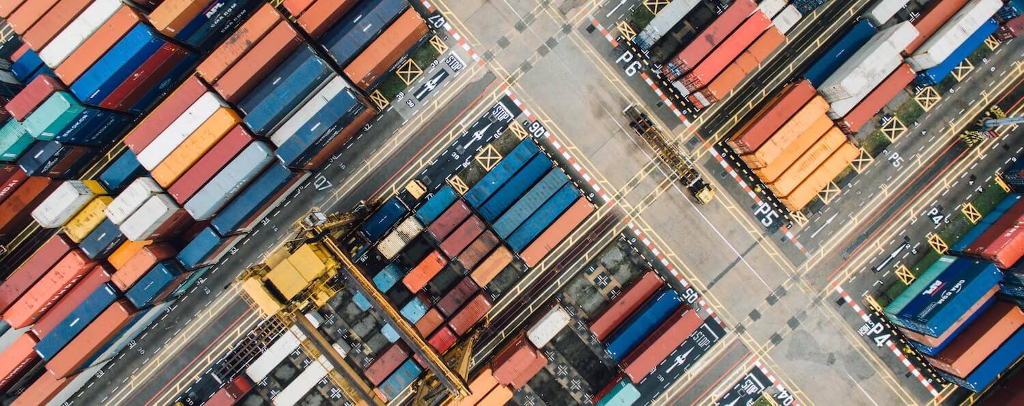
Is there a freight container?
Yes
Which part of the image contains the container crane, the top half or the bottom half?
bottom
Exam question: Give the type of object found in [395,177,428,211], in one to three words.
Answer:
truck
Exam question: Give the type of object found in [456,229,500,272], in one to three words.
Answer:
shipping container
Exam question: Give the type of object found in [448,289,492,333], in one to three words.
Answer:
shipping container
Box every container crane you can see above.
[236,195,492,406]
